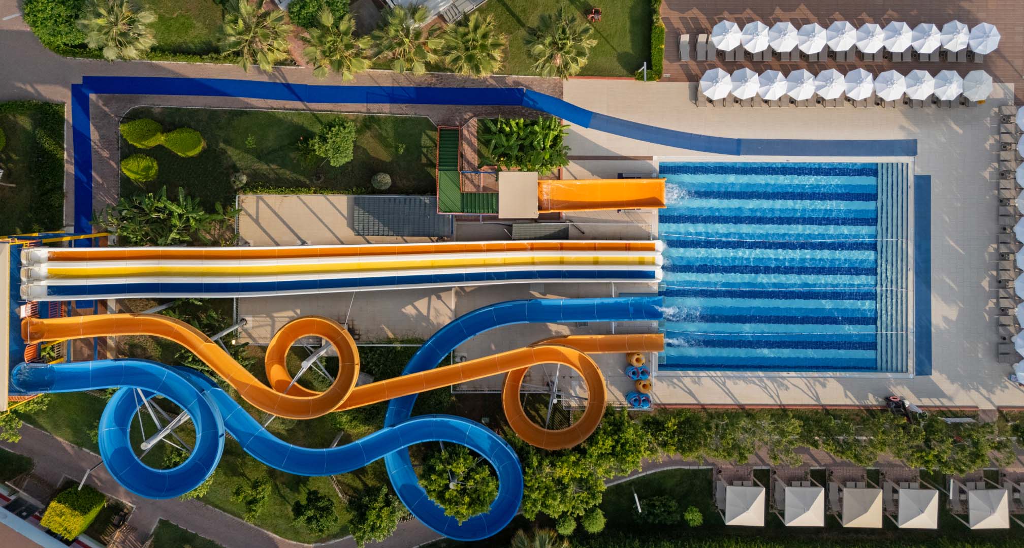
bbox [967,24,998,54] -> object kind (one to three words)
umbrella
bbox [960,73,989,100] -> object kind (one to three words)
umbrella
